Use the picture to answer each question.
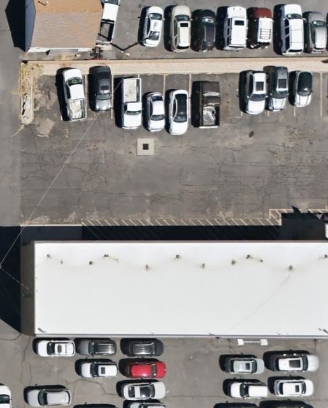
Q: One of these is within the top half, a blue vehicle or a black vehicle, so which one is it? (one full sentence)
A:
Visible within the top half is a black vehicle.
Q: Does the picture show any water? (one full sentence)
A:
No, no water is visible.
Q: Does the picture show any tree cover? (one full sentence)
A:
No, no tree cover is visible.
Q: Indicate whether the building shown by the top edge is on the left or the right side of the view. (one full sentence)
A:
It is on the left.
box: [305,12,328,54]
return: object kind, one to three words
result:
car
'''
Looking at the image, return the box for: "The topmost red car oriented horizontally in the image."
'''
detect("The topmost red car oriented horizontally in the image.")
[126,361,165,380]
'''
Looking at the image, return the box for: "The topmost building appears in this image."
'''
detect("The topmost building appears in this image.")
[26,0,102,51]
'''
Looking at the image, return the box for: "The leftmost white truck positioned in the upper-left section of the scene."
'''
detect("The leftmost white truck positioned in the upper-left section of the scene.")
[62,69,89,123]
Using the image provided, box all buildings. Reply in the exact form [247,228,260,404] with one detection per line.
[20,243,328,337]
[26,0,102,51]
